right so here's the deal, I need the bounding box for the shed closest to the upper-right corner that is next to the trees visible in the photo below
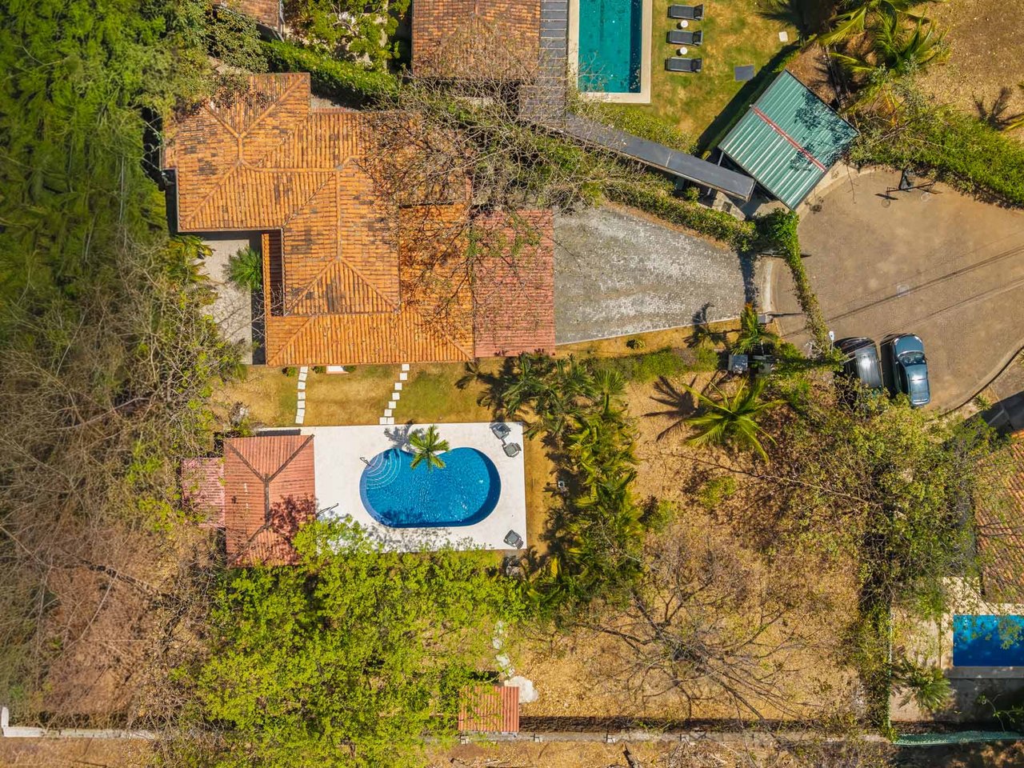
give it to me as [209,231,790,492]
[714,69,859,211]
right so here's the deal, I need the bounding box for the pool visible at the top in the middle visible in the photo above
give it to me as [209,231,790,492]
[569,0,651,103]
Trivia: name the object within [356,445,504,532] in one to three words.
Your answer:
swimming pool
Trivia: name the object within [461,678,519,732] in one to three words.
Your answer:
shed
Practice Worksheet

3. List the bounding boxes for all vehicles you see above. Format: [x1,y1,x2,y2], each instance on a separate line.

[835,328,884,405]
[888,334,932,407]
